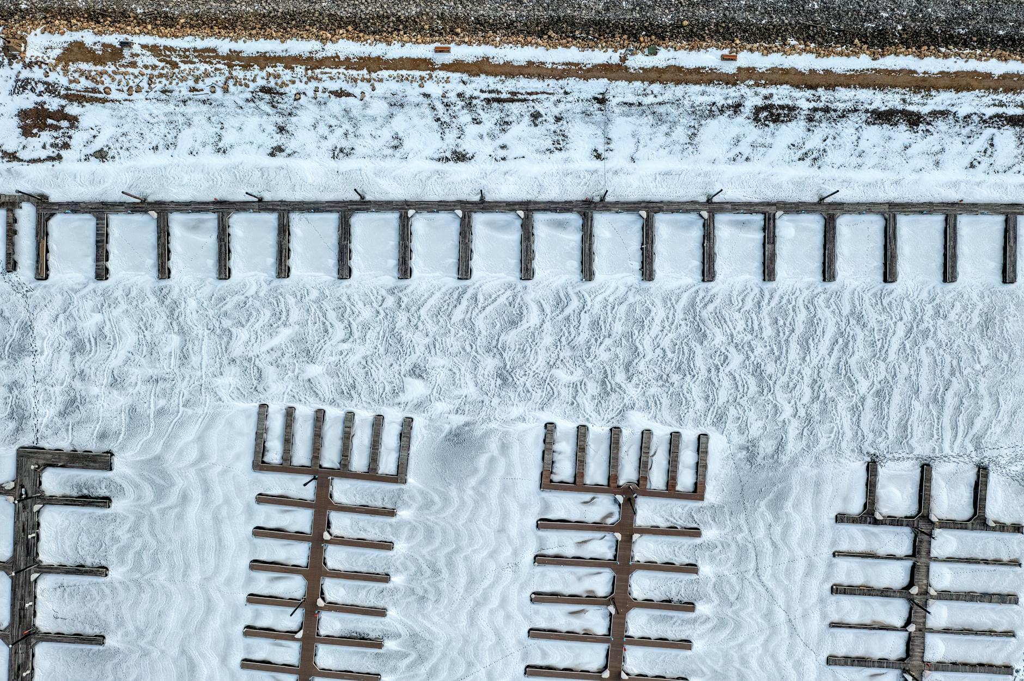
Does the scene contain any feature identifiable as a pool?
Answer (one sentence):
No, I can see no pool in this picture.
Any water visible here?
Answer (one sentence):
Yes, the picture does contain water.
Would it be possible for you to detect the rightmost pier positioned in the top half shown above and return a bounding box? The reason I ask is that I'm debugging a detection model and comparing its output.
[35,196,1024,283]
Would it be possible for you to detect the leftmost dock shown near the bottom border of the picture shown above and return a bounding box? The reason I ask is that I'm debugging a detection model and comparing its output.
[0,449,113,681]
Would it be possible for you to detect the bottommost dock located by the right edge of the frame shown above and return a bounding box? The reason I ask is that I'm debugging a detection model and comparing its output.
[826,463,1023,681]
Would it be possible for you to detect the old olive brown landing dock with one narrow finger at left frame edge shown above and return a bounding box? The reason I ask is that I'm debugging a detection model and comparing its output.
[0,194,52,271]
